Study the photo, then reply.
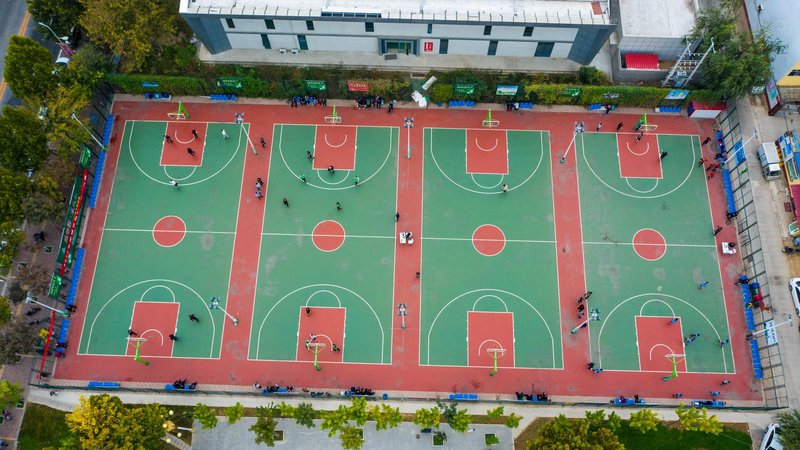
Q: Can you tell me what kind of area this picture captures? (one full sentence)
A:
This image shows a sports ground.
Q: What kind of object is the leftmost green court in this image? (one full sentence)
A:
I'd identify the leftmost green court as a basketball court.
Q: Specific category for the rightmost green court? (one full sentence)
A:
From above, the rightmost green court can be identified as a basketball court.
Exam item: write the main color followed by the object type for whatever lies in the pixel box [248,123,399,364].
green basketball court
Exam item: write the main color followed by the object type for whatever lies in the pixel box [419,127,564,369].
green basketball court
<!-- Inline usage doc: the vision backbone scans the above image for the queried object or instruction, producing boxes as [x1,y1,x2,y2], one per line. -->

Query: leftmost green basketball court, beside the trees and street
[77,120,251,359]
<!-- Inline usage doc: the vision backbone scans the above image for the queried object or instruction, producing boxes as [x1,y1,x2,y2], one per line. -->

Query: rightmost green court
[573,131,737,374]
